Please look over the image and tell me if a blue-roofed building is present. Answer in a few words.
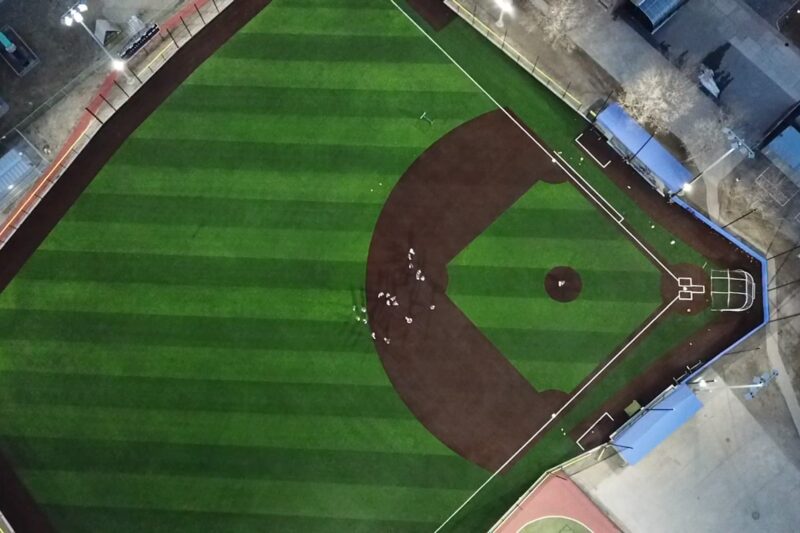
Yes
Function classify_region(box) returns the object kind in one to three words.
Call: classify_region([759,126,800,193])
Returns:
building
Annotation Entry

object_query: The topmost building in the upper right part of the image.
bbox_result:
[605,0,698,44]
